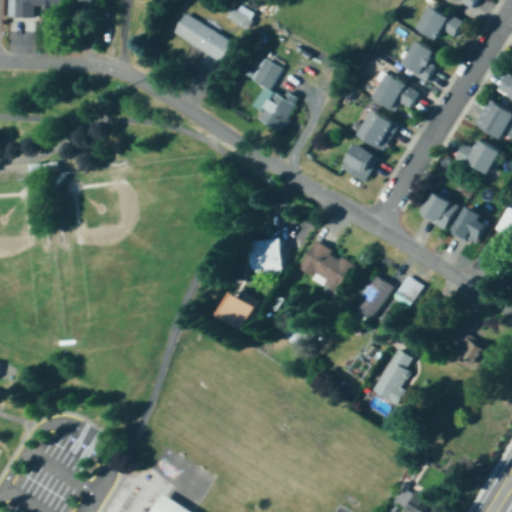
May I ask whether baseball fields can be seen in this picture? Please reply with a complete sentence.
Yes, a baseball field appears in the view.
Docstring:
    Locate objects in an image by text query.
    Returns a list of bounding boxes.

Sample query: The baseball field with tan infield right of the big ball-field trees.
[70,173,206,324]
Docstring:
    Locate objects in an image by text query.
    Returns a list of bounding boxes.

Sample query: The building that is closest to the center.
[250,238,283,272]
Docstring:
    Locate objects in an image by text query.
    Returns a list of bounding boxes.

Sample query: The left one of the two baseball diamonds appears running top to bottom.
[0,189,38,323]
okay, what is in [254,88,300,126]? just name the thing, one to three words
house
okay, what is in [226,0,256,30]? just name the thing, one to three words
building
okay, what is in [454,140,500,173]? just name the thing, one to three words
house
